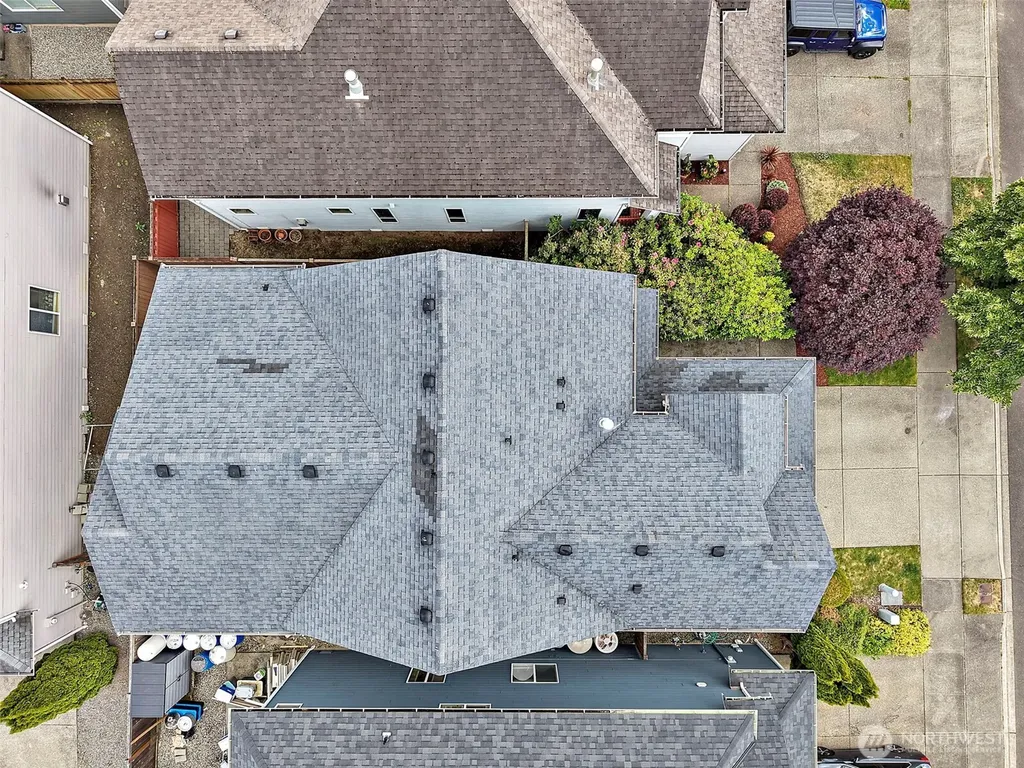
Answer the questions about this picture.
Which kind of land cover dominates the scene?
buildings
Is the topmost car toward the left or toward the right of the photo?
right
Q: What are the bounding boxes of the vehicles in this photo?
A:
[818,744,933,768]
[788,0,886,58]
